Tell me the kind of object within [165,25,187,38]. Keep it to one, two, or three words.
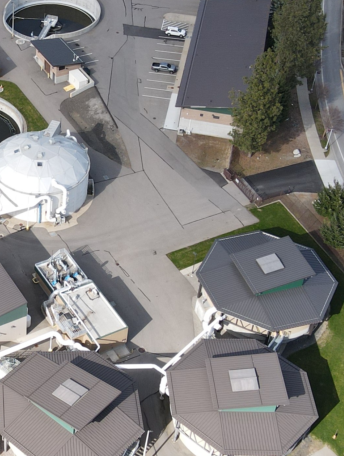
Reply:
vehicle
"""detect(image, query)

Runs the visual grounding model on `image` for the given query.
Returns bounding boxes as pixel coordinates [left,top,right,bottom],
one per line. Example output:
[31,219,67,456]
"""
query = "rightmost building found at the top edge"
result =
[175,0,270,132]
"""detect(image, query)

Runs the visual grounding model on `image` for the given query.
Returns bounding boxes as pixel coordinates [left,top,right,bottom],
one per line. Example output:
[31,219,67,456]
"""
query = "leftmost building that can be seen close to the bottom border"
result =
[0,350,145,456]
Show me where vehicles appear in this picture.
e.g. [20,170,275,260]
[150,61,178,75]
[165,25,187,38]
